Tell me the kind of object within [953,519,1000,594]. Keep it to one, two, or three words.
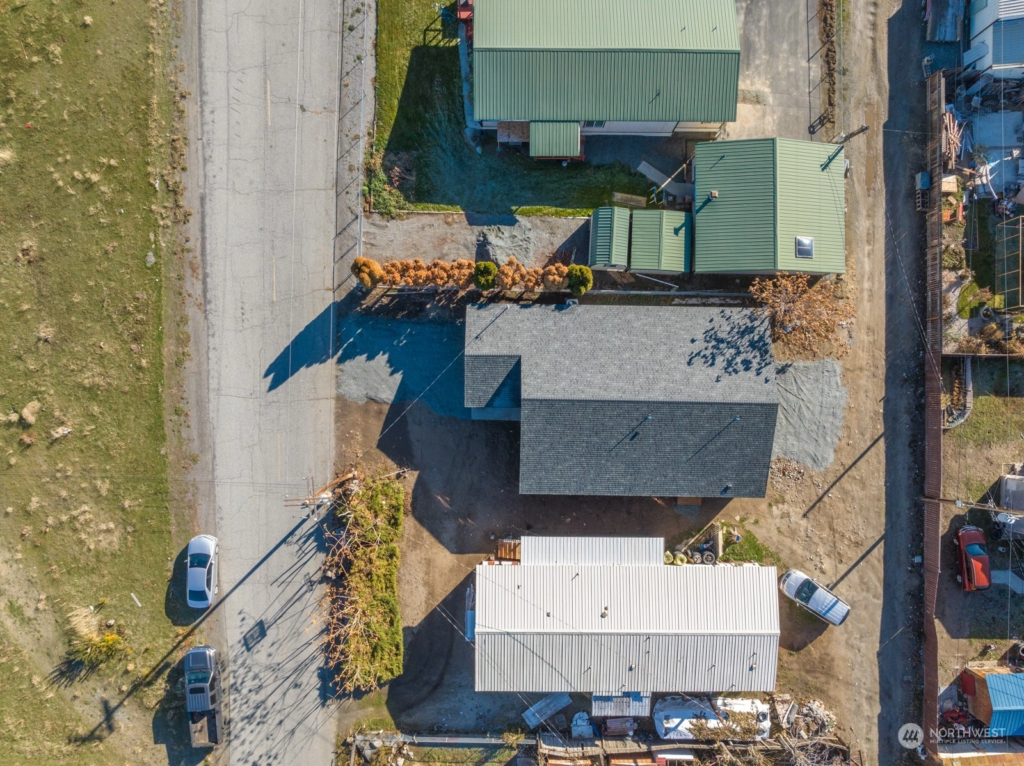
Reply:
car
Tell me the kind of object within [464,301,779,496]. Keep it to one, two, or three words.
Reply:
house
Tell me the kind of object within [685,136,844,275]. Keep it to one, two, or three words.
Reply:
building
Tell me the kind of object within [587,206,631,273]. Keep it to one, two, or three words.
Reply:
shed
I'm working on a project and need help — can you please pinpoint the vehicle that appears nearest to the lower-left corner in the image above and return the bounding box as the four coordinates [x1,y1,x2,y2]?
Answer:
[179,643,223,747]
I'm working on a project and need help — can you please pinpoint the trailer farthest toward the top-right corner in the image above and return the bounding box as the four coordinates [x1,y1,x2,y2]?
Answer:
[915,0,968,42]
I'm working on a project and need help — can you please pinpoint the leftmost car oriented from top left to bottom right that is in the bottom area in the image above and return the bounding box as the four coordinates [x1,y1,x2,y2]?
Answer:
[778,567,856,631]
